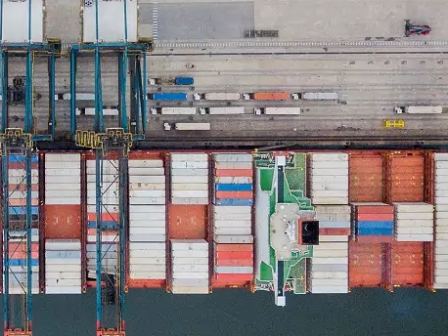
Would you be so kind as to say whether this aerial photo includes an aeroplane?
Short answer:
No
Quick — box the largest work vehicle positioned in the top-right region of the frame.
[403,18,433,37]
